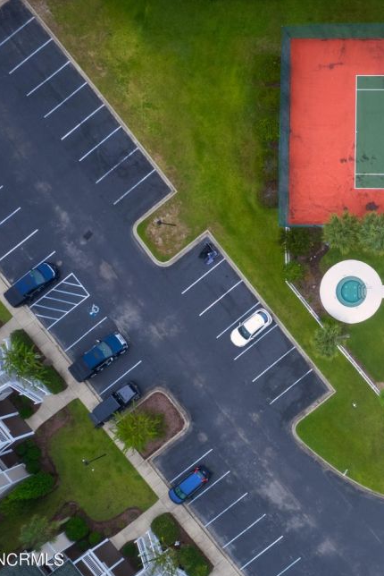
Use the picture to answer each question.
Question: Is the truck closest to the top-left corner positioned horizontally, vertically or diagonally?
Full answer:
What the image shows is the truck closest to the top-left corner lying diagonally.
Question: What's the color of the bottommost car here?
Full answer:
The bottommost car looks blue in the image.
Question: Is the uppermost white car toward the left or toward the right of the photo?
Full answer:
You can find the uppermost white car on the right side of the picture.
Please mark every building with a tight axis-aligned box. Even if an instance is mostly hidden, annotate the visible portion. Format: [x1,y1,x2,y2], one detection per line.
[0,340,51,495]
[1,529,183,576]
